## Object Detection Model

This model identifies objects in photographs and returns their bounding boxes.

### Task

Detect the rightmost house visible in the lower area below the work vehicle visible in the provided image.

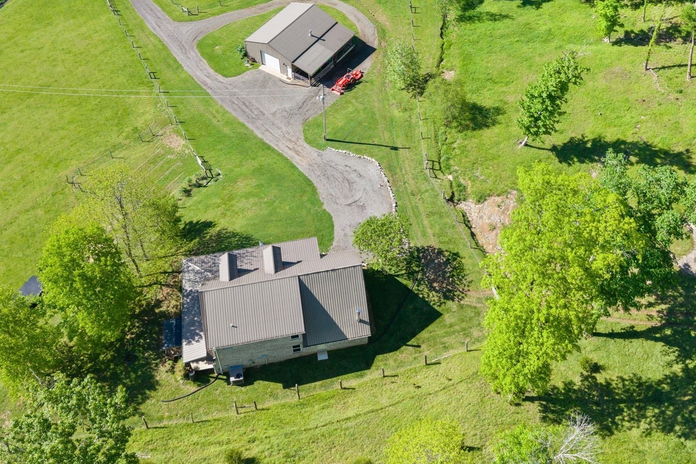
[182,235,371,374]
